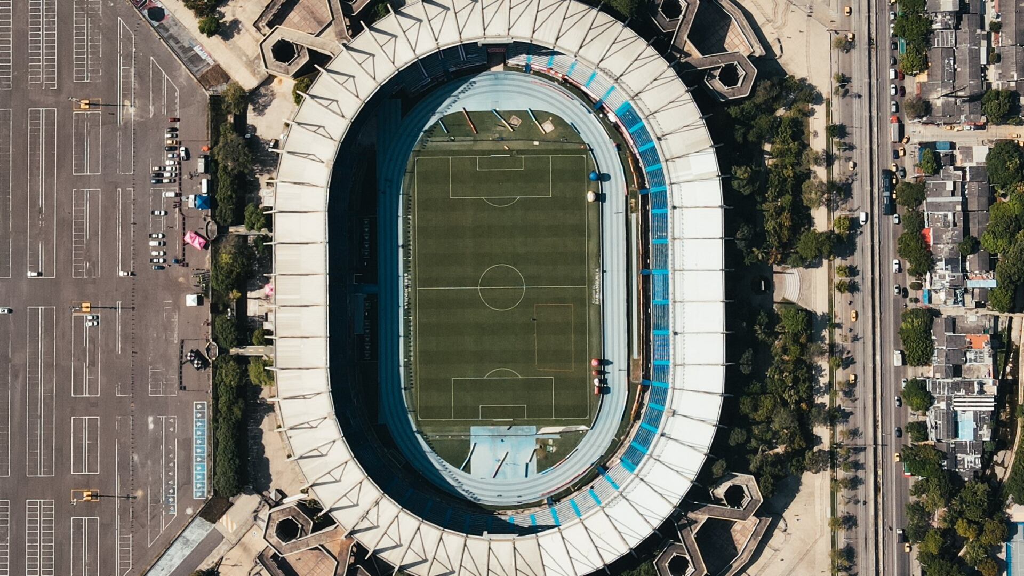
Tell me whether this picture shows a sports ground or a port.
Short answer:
sports ground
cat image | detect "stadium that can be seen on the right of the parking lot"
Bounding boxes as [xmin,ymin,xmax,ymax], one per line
[262,0,735,576]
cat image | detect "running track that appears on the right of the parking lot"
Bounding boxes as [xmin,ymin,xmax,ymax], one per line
[377,71,642,505]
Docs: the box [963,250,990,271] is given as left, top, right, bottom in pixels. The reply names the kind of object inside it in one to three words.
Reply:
house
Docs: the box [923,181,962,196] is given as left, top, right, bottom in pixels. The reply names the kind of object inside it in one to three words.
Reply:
house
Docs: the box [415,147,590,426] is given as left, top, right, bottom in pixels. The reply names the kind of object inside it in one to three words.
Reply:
soccer field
